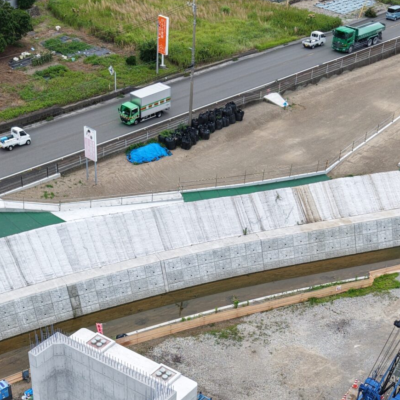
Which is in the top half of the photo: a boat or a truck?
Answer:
truck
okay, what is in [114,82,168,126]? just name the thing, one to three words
truck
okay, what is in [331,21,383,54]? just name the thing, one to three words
truck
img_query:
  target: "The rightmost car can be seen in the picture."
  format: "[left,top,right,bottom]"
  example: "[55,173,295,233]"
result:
[386,5,400,21]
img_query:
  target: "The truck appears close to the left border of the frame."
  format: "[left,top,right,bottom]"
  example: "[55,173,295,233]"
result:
[0,125,32,151]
